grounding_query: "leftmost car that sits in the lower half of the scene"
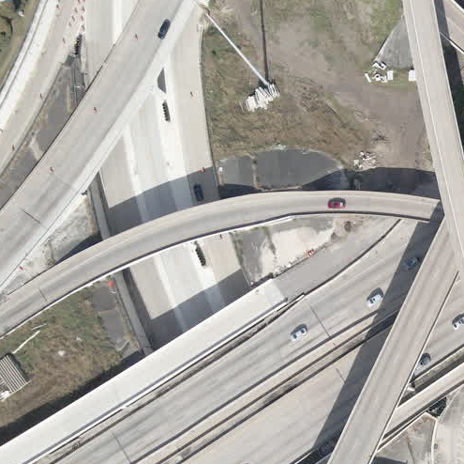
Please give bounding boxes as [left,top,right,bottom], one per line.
[289,326,308,340]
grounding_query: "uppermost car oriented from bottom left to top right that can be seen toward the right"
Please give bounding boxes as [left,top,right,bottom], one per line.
[404,255,421,271]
